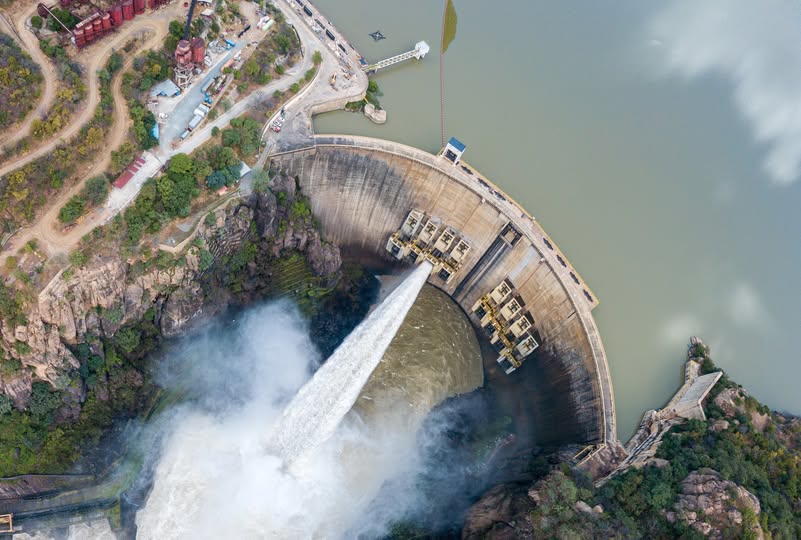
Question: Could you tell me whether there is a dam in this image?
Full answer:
Yes, there's a dam here.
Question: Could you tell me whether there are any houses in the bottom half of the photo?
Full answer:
No, there's no house to be seen in the bottom half of the photo.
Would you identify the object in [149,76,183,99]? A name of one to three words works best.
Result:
shed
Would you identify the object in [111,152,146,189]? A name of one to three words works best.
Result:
shed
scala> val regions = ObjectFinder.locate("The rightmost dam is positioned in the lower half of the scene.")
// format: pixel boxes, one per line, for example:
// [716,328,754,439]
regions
[626,361,724,445]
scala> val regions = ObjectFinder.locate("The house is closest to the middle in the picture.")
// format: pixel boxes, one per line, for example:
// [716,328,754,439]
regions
[440,140,464,166]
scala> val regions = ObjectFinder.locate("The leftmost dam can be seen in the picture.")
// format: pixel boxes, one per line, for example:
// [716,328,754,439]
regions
[262,136,623,453]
